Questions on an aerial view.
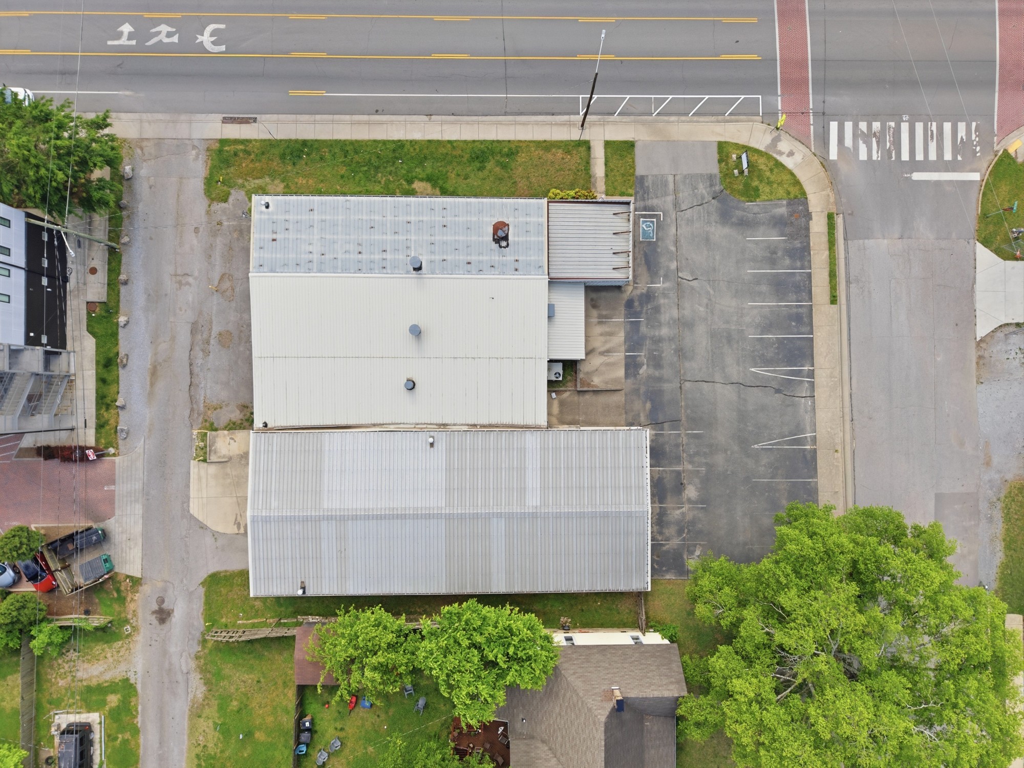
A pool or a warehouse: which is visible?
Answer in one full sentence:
Visible in the photo is a warehouse.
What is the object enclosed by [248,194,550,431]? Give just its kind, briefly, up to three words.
warehouse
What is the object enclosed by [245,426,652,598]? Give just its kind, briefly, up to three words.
warehouse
